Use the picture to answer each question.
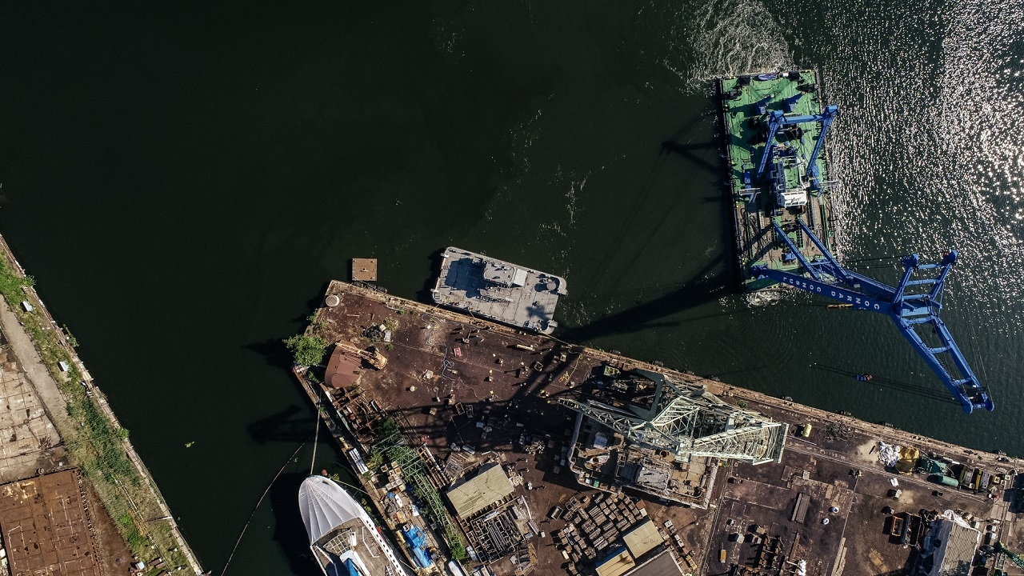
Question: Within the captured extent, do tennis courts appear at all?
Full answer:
No, there is no tennis court in the image.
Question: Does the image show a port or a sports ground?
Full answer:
The picture captures a port.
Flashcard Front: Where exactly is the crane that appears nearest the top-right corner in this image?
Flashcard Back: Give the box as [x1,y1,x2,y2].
[720,67,997,417]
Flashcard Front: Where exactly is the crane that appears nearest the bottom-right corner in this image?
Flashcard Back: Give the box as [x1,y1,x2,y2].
[991,541,1024,570]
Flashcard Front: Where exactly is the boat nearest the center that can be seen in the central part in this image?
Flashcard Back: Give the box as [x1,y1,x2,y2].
[431,246,566,332]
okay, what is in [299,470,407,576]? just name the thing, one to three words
boat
